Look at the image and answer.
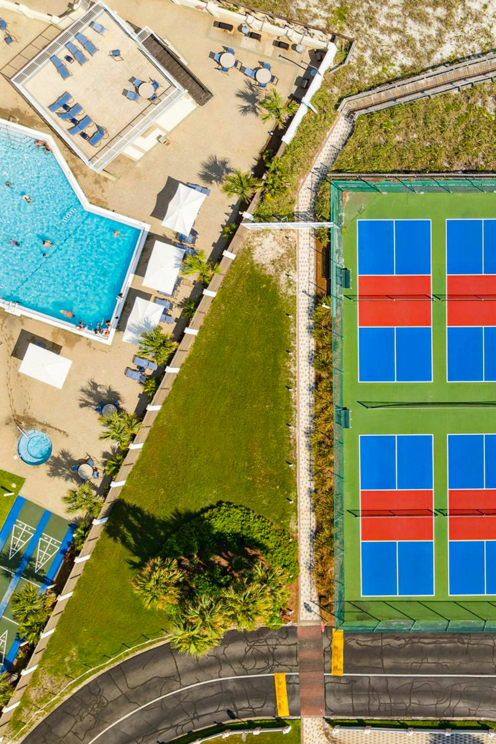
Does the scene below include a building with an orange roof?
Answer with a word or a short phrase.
No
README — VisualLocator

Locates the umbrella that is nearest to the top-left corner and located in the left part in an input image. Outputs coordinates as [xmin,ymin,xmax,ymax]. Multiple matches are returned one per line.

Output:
[162,183,206,237]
